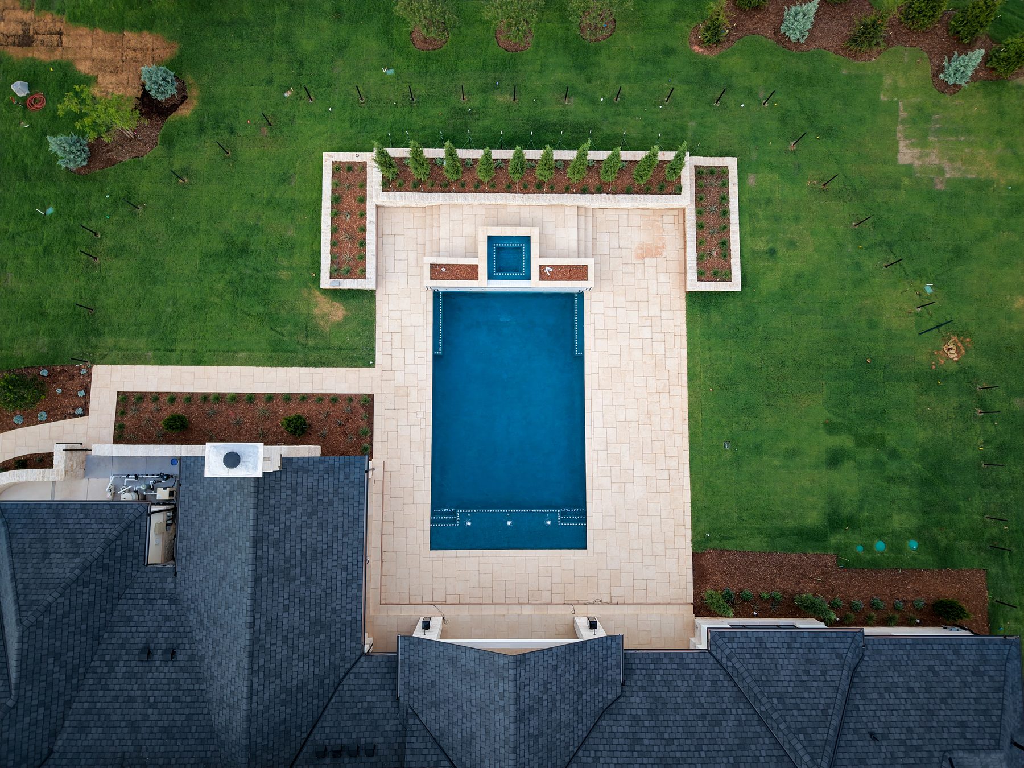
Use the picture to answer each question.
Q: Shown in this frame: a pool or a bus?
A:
pool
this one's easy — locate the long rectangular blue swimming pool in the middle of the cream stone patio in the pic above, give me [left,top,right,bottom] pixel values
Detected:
[431,294,586,550]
